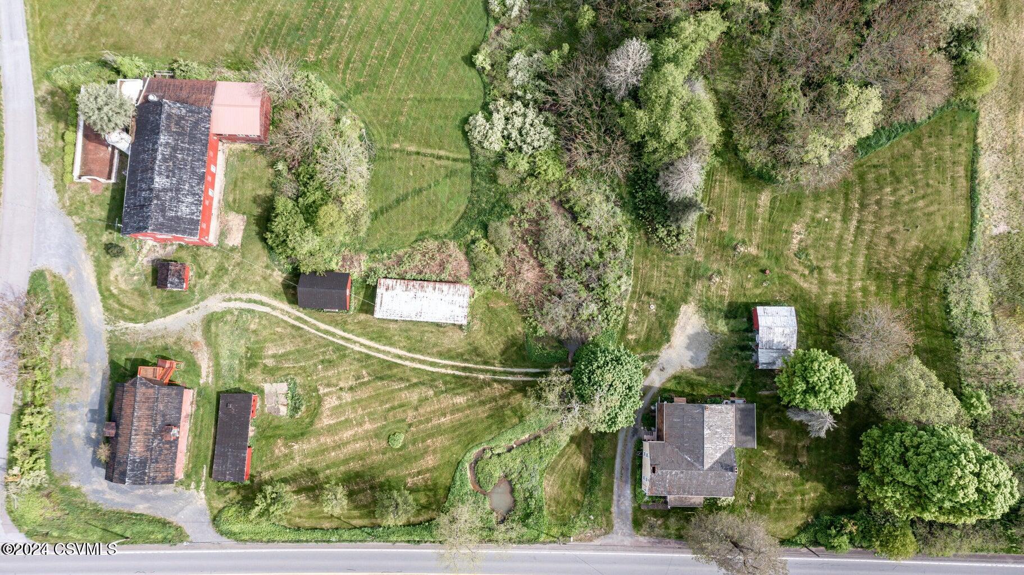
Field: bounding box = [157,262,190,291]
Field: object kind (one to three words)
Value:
shed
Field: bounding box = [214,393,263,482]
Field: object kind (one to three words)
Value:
shed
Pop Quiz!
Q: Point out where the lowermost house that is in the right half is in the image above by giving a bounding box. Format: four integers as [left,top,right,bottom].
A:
[642,396,756,508]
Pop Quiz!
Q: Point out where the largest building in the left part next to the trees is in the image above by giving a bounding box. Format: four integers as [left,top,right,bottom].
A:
[122,77,273,245]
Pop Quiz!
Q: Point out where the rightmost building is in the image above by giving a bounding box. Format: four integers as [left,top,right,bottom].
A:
[748,306,797,369]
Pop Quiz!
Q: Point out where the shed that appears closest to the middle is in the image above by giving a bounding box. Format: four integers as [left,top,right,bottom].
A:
[376,279,471,325]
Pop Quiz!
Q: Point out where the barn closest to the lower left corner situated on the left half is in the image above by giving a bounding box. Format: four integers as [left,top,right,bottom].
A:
[102,360,190,485]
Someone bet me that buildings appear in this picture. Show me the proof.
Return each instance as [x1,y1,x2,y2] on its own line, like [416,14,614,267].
[748,306,797,369]
[122,77,273,245]
[102,360,190,485]
[376,279,471,325]
[298,271,353,312]
[642,396,756,508]
[157,262,190,291]
[214,393,263,482]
